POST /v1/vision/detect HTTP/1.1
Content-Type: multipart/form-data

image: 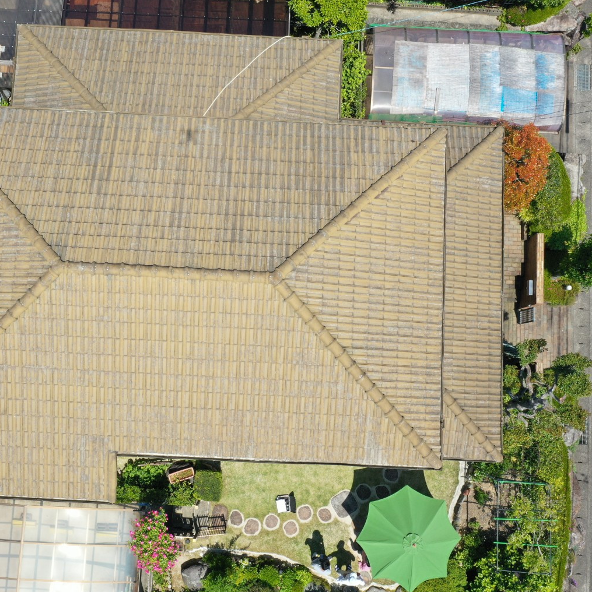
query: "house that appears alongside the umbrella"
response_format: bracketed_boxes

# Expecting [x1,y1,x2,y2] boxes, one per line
[0,23,508,506]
